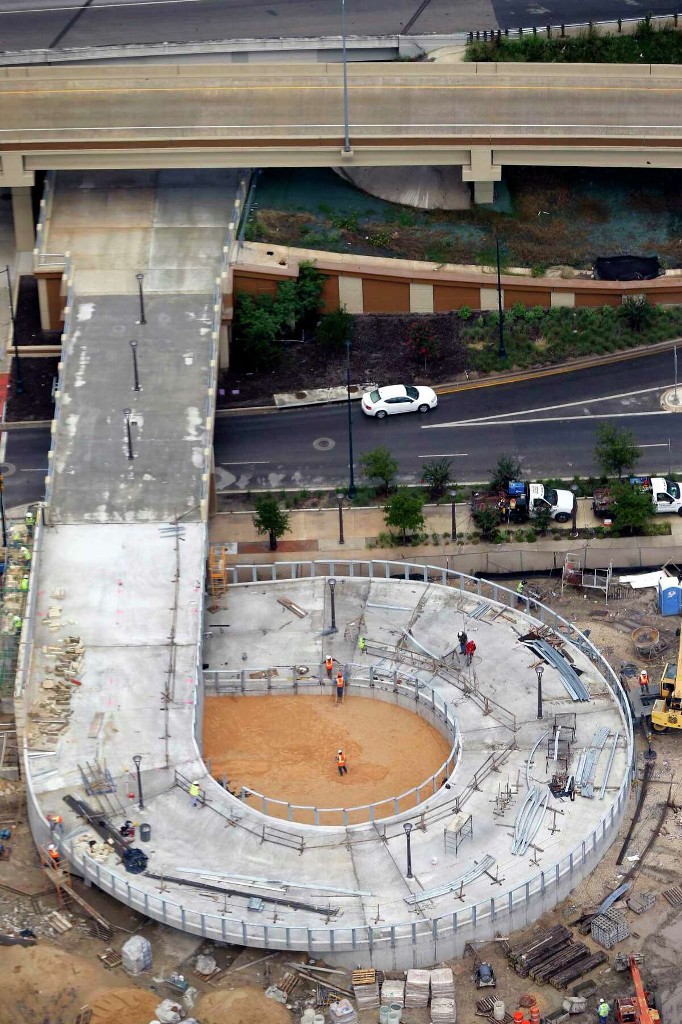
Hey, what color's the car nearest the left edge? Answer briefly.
white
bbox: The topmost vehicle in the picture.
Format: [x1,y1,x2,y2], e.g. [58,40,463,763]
[358,380,439,418]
